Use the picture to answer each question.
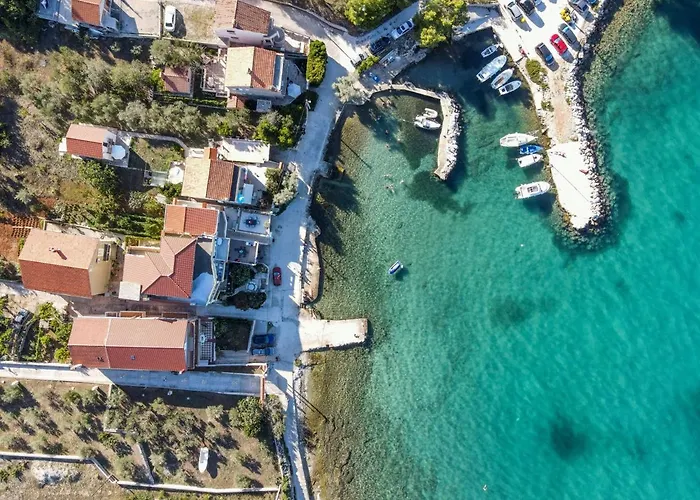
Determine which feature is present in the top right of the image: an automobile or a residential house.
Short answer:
automobile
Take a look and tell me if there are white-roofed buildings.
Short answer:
Yes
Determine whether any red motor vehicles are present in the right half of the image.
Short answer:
Yes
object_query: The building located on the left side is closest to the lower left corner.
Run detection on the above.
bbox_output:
[68,316,122,368]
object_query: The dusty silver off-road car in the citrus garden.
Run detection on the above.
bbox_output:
[9,305,33,328]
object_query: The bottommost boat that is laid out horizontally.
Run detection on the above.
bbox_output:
[513,181,555,198]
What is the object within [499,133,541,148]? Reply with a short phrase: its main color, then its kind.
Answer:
white boat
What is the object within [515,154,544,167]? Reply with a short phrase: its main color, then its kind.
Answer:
white boat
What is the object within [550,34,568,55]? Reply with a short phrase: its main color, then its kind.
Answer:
red car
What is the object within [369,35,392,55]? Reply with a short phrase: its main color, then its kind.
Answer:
black car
